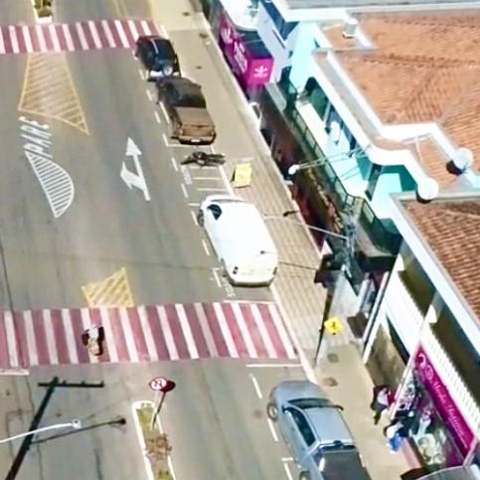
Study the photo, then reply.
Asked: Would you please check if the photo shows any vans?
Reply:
Yes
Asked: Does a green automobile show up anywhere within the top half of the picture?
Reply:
No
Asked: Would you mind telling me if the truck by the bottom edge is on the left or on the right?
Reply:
right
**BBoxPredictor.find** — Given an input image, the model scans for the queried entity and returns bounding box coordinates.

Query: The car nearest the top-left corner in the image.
[131,27,178,73]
